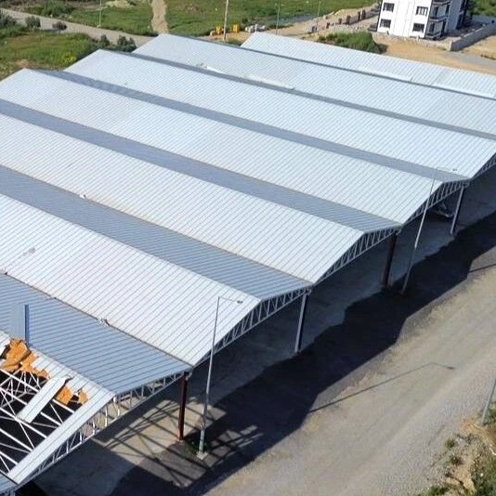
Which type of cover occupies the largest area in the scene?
buildings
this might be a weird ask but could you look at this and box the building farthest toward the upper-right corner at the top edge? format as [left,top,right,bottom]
[378,0,469,41]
